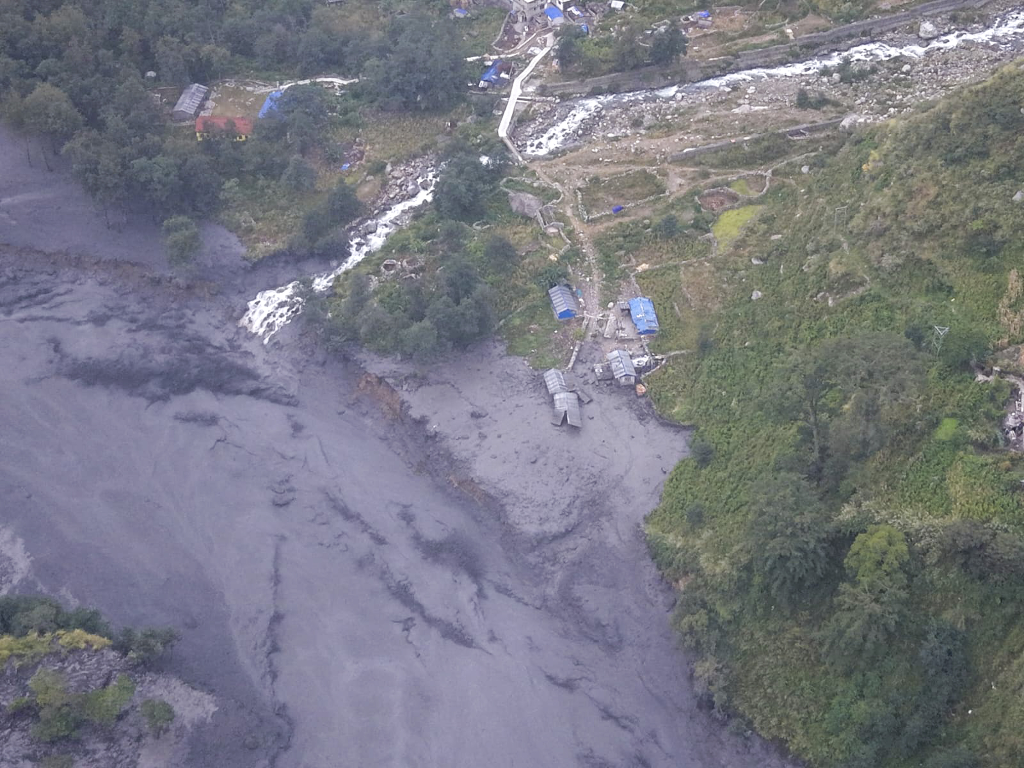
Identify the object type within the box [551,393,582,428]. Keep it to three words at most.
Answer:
shed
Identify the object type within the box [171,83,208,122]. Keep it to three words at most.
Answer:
house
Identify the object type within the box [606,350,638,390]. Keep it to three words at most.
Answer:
shed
